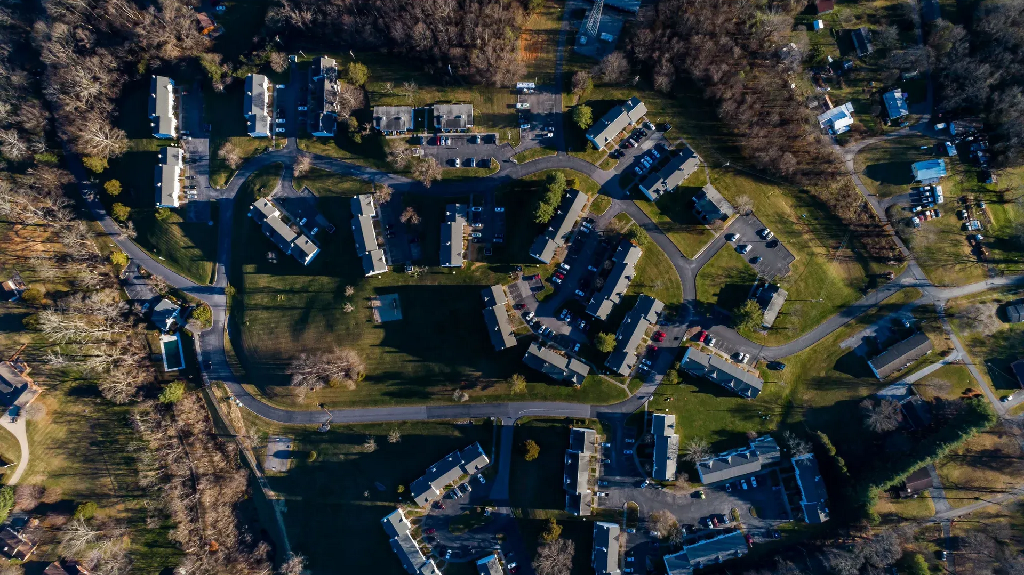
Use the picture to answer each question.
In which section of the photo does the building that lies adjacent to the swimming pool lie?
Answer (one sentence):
The building that lies adjacent to the swimming pool is located in the left region of the scene.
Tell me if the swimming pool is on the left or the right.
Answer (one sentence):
You can find the swimming pool on the left side of the picture.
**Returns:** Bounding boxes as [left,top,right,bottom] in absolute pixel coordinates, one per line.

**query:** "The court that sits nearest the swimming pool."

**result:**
[264,436,294,471]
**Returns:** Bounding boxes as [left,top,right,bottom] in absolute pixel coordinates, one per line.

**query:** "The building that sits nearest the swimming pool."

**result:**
[151,299,182,330]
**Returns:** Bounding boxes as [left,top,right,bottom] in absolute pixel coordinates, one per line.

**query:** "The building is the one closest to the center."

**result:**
[481,283,517,351]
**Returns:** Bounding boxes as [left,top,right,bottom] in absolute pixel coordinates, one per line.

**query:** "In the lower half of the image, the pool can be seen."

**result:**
[160,332,183,372]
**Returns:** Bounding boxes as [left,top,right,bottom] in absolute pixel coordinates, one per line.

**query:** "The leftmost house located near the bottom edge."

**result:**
[0,520,39,563]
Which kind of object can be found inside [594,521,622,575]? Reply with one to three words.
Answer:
building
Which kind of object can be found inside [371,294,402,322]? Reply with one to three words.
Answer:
sports court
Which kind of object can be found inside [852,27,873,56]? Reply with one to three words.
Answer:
house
